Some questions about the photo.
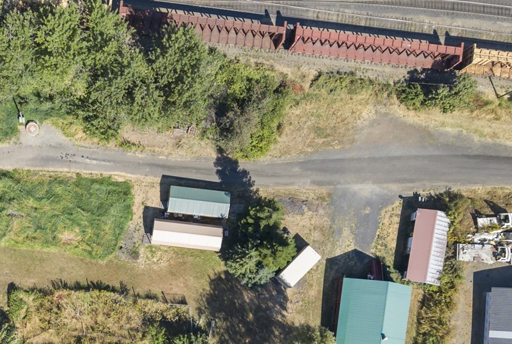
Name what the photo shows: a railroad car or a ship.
railroad car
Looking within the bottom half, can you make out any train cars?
No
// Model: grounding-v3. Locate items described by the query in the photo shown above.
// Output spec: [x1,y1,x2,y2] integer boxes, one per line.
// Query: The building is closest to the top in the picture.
[167,186,231,219]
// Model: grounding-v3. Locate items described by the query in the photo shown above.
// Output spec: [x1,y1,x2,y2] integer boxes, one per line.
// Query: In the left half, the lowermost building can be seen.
[151,219,223,252]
